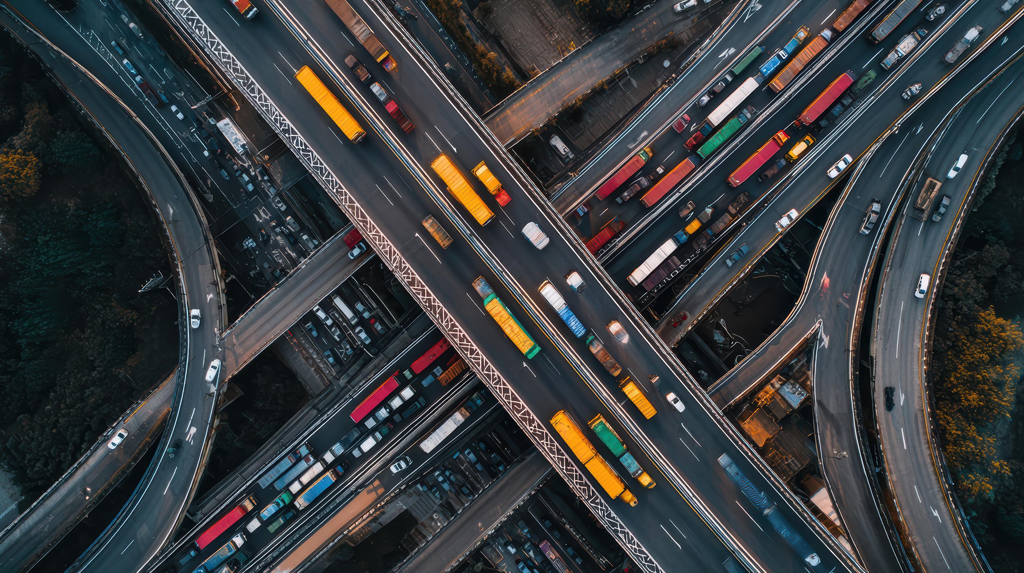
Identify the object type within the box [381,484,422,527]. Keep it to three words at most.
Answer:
building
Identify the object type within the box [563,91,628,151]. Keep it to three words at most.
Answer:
building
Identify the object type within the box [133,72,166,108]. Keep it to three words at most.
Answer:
truck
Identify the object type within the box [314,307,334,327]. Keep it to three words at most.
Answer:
car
